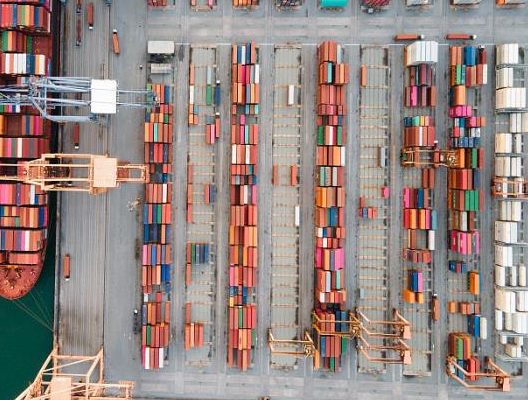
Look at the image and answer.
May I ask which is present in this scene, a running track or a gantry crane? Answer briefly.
gantry crane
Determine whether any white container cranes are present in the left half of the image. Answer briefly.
Yes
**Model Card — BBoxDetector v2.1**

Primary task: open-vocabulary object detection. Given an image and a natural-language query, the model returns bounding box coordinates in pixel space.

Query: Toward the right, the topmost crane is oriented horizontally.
[403,148,462,168]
